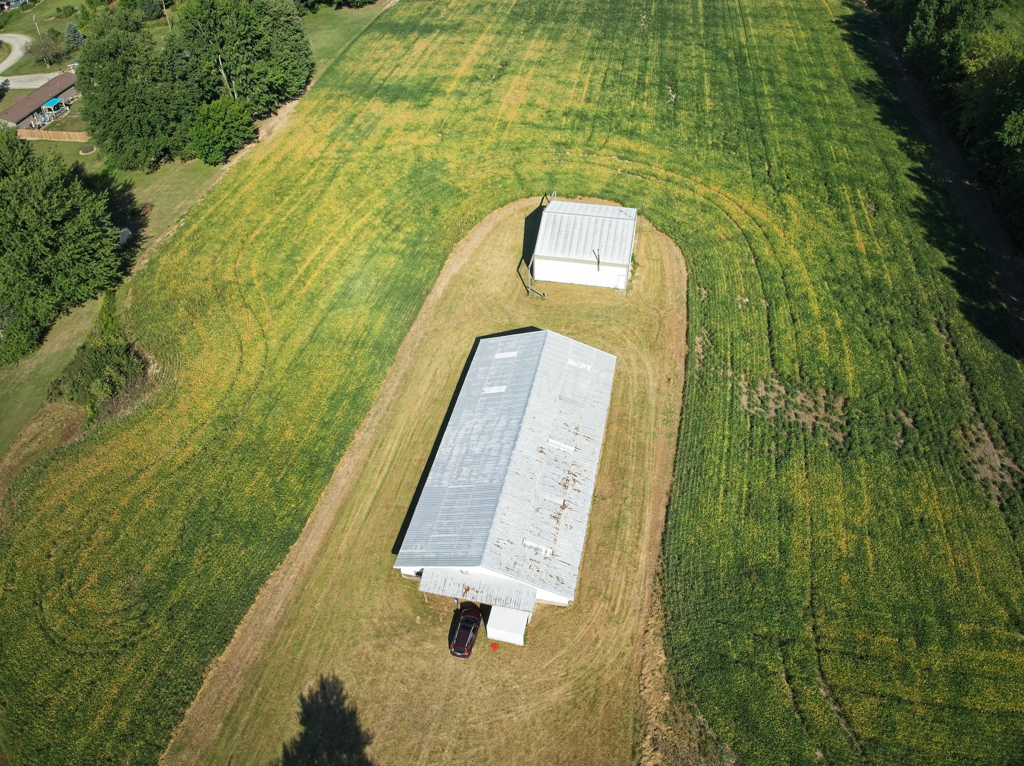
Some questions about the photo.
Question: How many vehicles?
1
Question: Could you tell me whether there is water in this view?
No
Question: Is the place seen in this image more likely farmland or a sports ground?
farmland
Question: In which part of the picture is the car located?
bottom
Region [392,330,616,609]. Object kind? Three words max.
barn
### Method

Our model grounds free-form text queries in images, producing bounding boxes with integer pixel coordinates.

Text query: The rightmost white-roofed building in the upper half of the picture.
[533,200,639,290]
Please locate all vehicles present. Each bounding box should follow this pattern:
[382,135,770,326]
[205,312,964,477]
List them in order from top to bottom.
[449,608,481,660]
